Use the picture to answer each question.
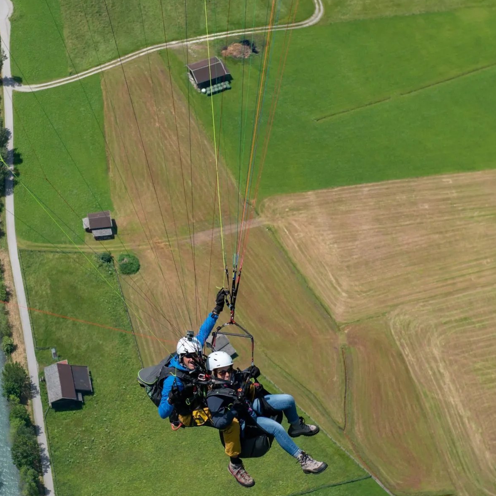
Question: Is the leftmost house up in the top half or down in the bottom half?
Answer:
bottom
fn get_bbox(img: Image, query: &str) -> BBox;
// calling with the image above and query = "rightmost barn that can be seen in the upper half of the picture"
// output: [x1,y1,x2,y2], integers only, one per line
[188,57,232,89]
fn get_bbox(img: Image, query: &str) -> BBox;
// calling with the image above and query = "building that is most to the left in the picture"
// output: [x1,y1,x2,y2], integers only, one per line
[44,359,93,409]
